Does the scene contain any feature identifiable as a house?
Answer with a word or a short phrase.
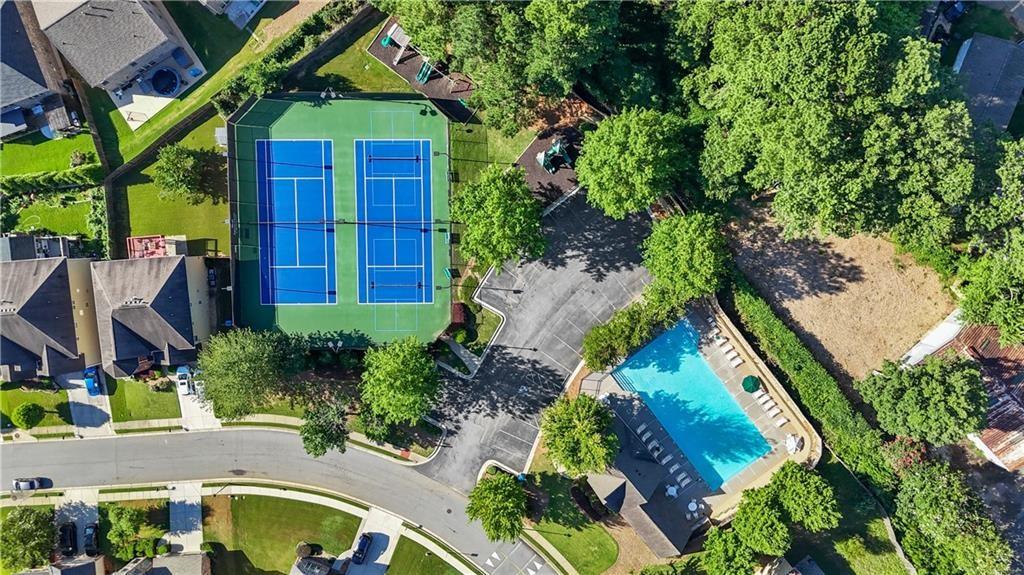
Yes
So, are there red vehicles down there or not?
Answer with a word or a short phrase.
No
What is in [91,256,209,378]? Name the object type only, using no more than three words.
house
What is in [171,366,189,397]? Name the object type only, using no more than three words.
car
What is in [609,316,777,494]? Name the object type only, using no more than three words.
swimming pool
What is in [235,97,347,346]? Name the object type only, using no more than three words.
tennis court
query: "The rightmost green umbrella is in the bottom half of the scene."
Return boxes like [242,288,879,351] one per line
[742,374,760,393]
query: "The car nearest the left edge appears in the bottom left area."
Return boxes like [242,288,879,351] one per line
[6,478,39,494]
